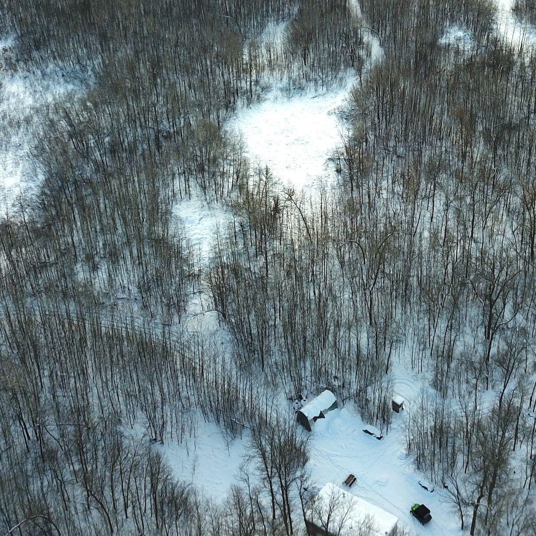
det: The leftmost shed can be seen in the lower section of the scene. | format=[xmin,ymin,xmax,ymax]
[295,388,338,431]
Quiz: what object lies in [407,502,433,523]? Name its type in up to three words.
car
